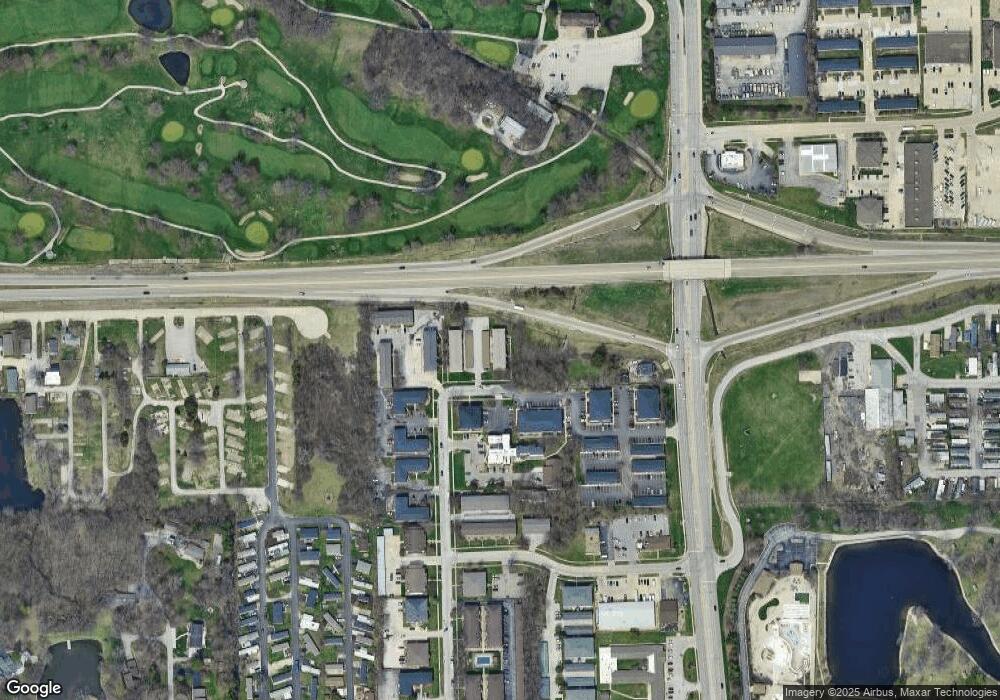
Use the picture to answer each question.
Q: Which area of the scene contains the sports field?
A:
right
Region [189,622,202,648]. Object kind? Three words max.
house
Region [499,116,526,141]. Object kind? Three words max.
shed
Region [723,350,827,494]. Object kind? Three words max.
sports field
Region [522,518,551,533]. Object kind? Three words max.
building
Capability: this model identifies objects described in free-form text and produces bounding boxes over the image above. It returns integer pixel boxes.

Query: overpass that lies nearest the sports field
[663,259,732,280]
